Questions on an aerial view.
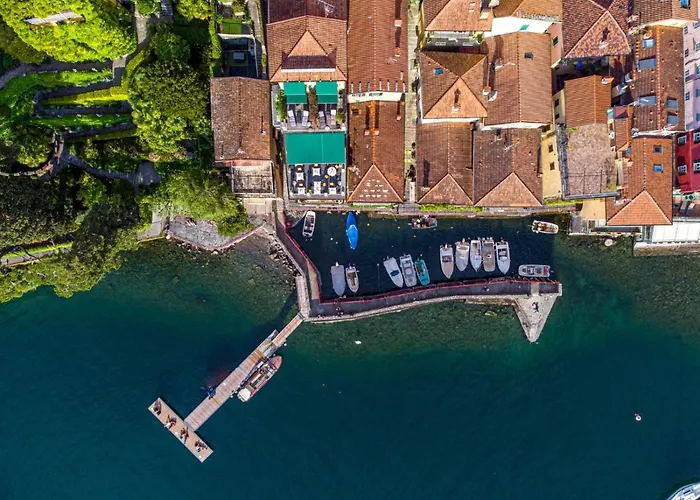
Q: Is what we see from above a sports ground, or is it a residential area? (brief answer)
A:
residential area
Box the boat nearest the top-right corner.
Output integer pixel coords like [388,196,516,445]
[526,220,559,233]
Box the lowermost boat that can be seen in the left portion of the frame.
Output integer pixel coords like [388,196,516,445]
[236,358,280,404]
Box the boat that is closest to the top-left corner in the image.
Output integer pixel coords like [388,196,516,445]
[303,213,315,242]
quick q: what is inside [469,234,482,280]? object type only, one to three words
boat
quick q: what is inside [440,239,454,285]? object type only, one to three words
boat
